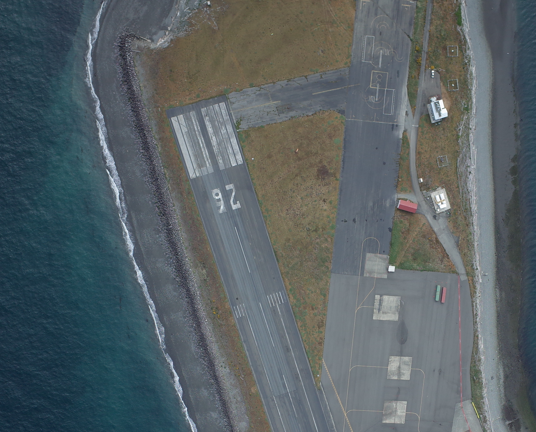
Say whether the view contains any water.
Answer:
Yes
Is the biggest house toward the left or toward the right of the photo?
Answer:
right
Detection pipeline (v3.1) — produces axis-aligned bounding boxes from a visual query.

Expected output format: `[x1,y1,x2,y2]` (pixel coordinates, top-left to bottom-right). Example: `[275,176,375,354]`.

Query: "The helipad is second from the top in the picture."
[373,294,400,321]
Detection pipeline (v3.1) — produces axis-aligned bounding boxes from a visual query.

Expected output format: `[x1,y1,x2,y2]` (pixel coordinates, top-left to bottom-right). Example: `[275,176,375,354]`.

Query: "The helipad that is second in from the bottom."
[387,356,413,380]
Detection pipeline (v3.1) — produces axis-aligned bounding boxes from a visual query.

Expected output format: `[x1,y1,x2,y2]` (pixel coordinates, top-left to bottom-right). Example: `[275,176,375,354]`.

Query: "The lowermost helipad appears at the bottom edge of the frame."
[382,401,407,424]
